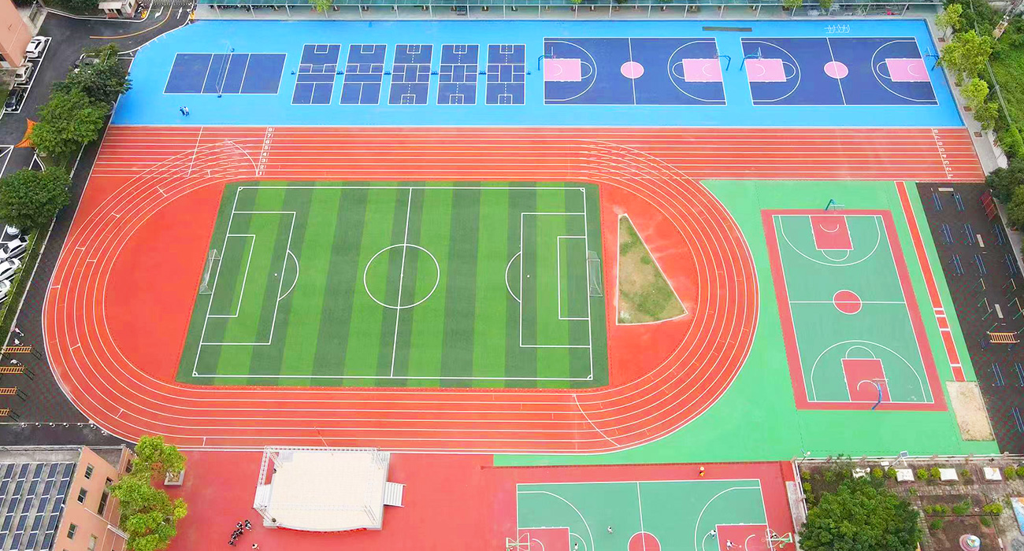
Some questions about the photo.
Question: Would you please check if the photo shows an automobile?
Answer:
Yes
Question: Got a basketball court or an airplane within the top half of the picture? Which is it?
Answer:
basketball court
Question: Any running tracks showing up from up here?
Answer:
Yes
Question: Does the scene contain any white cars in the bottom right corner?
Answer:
No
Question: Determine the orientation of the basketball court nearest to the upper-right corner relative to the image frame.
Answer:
from left to right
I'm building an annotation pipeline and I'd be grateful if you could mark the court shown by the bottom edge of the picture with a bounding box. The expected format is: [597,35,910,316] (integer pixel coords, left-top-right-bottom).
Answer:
[517,479,772,551]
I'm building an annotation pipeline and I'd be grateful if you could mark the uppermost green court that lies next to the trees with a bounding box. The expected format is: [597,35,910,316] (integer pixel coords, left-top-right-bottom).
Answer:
[761,209,948,412]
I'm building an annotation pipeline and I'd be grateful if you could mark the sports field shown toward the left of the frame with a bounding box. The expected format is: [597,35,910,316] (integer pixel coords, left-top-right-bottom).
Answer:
[174,182,609,386]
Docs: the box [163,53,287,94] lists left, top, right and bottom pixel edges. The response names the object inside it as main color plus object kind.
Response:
blue sports court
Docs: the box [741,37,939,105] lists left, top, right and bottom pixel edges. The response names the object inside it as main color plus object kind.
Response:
blue basketball court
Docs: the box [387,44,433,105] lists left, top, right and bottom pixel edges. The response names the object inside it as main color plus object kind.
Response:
blue sports court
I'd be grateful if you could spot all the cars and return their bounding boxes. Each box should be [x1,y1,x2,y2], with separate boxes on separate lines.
[0,86,27,110]
[0,255,25,278]
[0,276,16,296]
[11,62,36,83]
[0,233,32,261]
[22,36,48,58]
[0,217,29,242]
